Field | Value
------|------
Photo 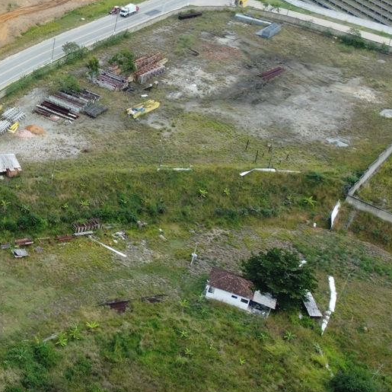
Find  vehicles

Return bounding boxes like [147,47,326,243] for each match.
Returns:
[116,2,140,19]
[107,5,121,15]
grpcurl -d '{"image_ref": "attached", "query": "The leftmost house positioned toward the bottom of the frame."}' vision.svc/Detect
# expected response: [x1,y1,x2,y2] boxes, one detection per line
[207,271,282,323]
